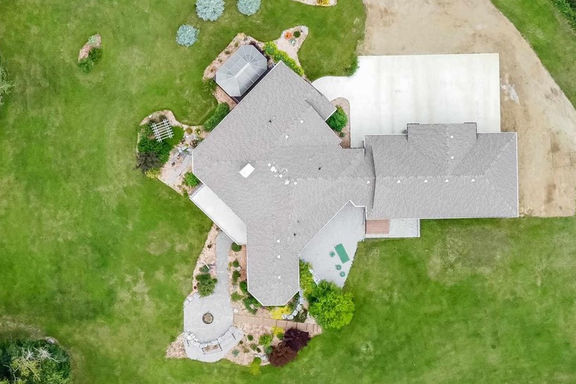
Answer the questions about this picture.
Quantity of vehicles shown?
0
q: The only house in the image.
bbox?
[191,60,519,306]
